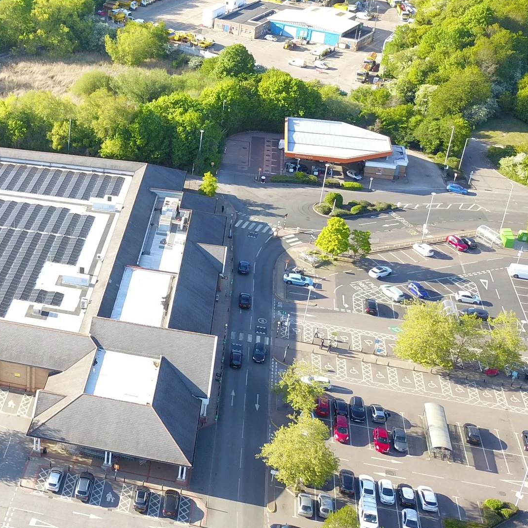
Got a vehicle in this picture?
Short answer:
Yes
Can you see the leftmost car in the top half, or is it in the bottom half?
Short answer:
bottom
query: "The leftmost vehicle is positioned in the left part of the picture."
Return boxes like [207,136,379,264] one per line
[44,466,65,494]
